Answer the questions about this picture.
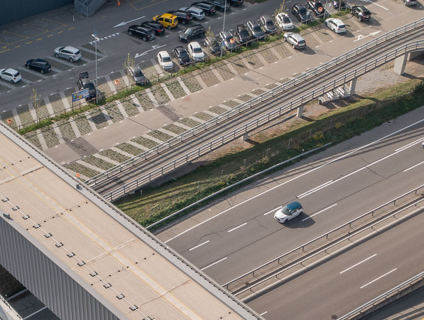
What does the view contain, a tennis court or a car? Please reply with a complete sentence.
Looking from above, you can make out a car.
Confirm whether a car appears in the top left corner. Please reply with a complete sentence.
Yes, I can see a car in the top left corner.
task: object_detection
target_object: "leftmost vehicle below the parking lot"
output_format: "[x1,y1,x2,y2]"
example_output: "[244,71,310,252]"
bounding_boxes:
[272,204,306,225]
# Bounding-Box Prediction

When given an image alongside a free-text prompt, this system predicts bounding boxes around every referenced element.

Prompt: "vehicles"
[125,64,146,86]
[151,13,179,30]
[346,5,375,21]
[24,61,52,76]
[180,6,206,21]
[166,8,194,23]
[272,204,306,225]
[275,11,293,30]
[187,41,204,60]
[246,19,265,38]
[226,0,245,7]
[189,1,218,15]
[235,23,252,42]
[157,50,173,69]
[178,24,207,42]
[259,14,277,33]
[329,0,347,9]
[139,21,167,34]
[174,46,190,63]
[77,70,96,97]
[127,25,156,41]
[307,0,324,16]
[218,29,236,48]
[281,33,309,50]
[321,19,351,34]
[292,2,311,21]
[53,46,83,63]
[203,34,221,55]
[402,0,418,8]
